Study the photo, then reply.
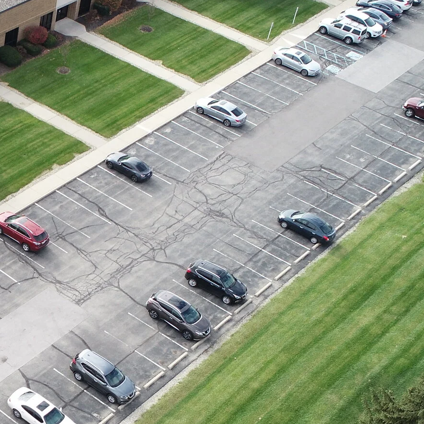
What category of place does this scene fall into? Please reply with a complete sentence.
It's a parking lot.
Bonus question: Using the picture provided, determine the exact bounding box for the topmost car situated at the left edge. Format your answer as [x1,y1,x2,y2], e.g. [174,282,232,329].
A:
[0,213,52,254]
